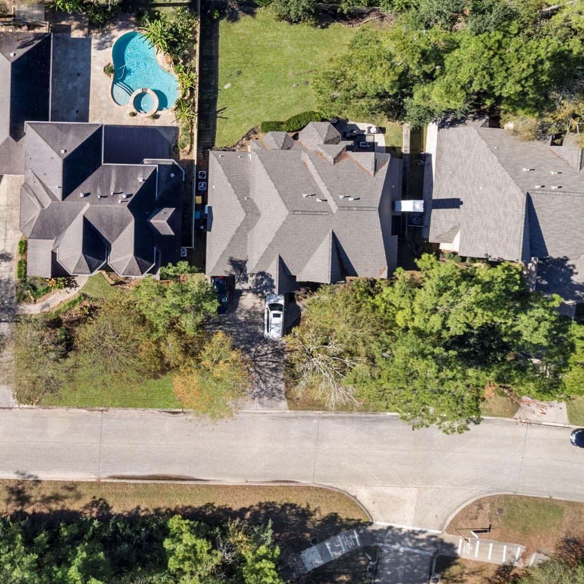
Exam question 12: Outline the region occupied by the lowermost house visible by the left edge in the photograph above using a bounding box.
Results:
[0,31,186,279]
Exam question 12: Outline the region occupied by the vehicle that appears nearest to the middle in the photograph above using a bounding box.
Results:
[264,294,287,339]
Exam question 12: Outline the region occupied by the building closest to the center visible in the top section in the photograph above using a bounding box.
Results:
[205,121,424,295]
